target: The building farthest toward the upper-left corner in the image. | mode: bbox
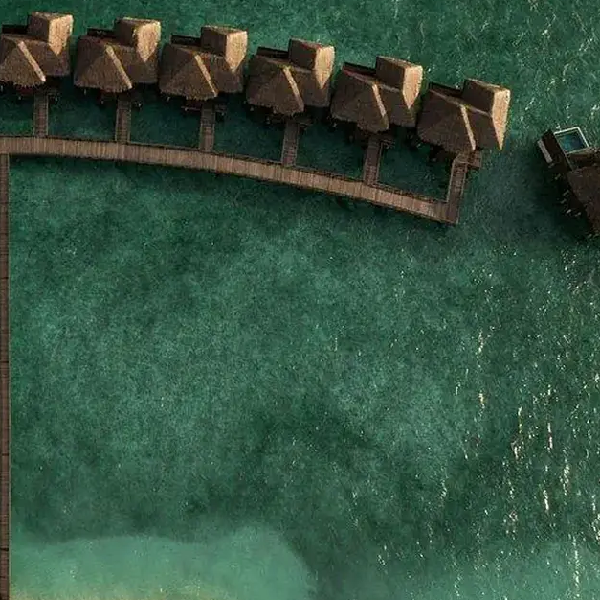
[0,12,73,110]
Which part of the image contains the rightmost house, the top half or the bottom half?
top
